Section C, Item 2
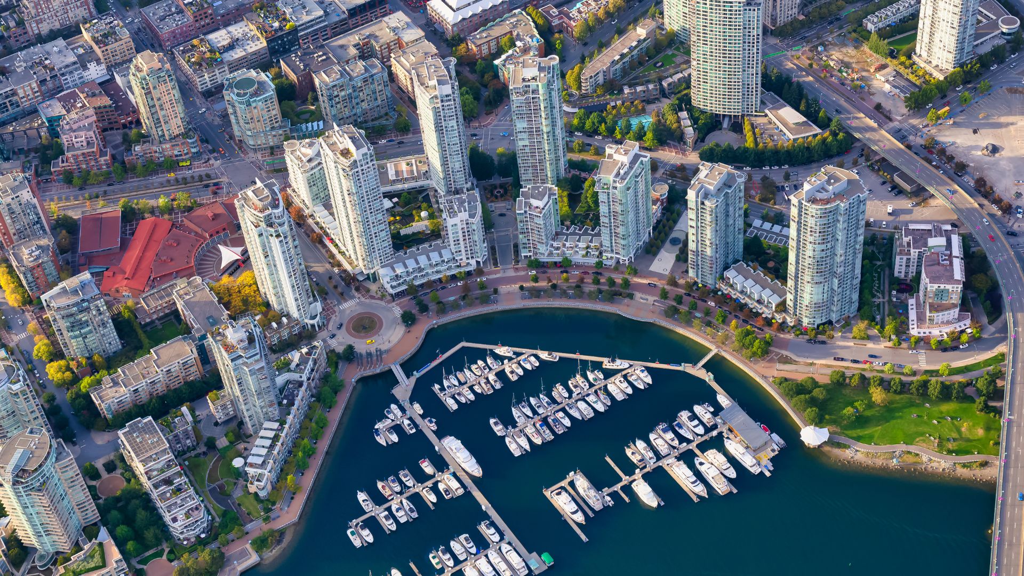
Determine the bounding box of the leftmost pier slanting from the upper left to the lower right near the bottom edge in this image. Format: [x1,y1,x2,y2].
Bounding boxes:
[400,401,537,566]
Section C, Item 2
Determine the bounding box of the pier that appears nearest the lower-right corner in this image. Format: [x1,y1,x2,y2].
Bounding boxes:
[716,401,780,478]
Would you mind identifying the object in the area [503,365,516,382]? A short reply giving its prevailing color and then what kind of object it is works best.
white boat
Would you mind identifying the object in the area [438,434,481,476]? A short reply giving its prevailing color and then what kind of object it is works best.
white boat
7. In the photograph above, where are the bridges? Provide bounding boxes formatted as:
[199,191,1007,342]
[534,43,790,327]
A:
[768,40,1024,576]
